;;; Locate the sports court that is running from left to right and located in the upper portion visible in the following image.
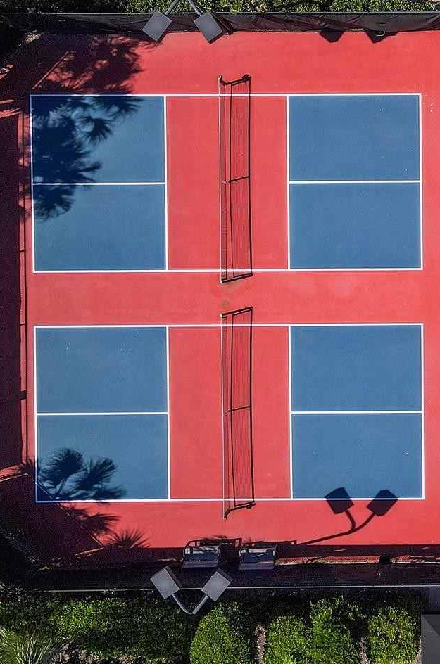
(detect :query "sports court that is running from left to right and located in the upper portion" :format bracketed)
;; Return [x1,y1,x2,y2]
[31,92,422,273]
